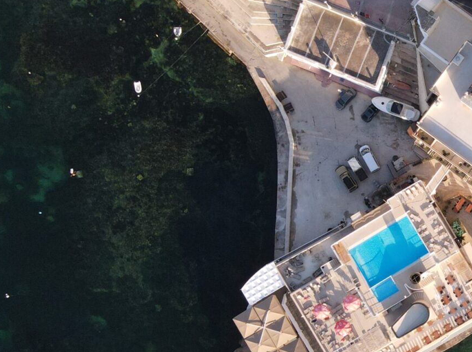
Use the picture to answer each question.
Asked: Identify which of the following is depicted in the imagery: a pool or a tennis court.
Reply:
pool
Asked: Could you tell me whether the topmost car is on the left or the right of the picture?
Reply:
right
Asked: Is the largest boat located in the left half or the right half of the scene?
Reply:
right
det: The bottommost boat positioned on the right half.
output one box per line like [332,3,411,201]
[372,99,422,124]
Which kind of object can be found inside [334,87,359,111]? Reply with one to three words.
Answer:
car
